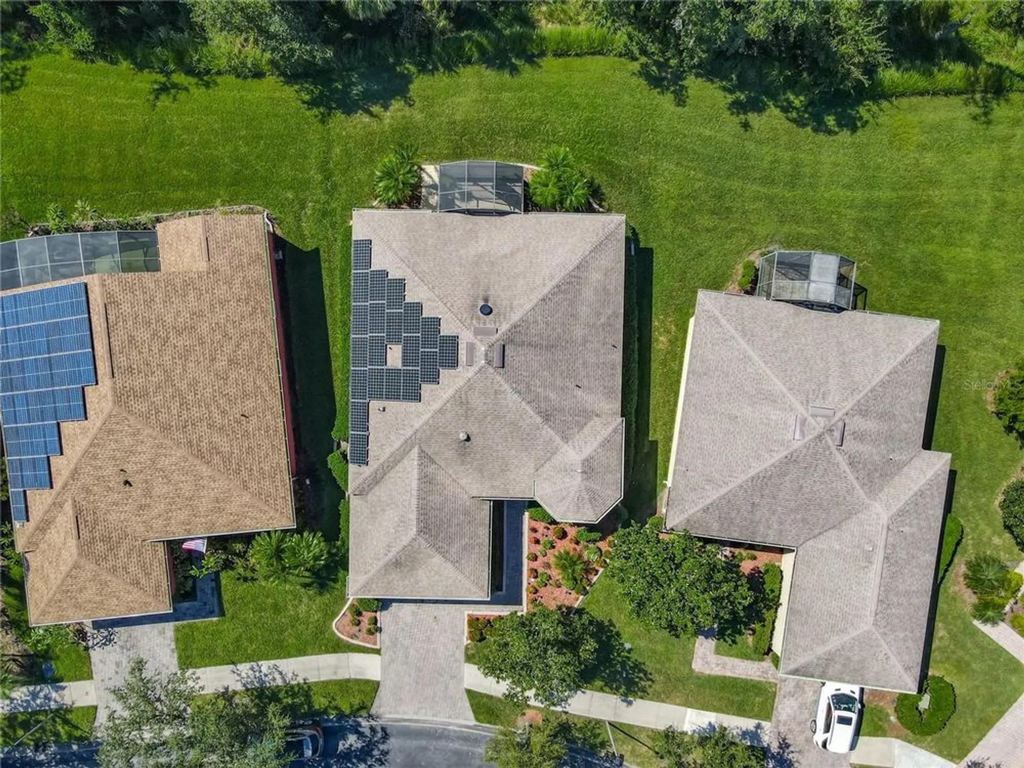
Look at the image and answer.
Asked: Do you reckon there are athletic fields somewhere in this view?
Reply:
No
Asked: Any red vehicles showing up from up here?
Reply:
No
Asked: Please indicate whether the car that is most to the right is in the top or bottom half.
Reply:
bottom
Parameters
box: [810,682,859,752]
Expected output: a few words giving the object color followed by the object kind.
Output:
white car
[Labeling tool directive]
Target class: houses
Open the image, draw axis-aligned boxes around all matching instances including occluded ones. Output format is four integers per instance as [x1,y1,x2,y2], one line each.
[662,287,953,696]
[0,211,304,627]
[346,207,633,601]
